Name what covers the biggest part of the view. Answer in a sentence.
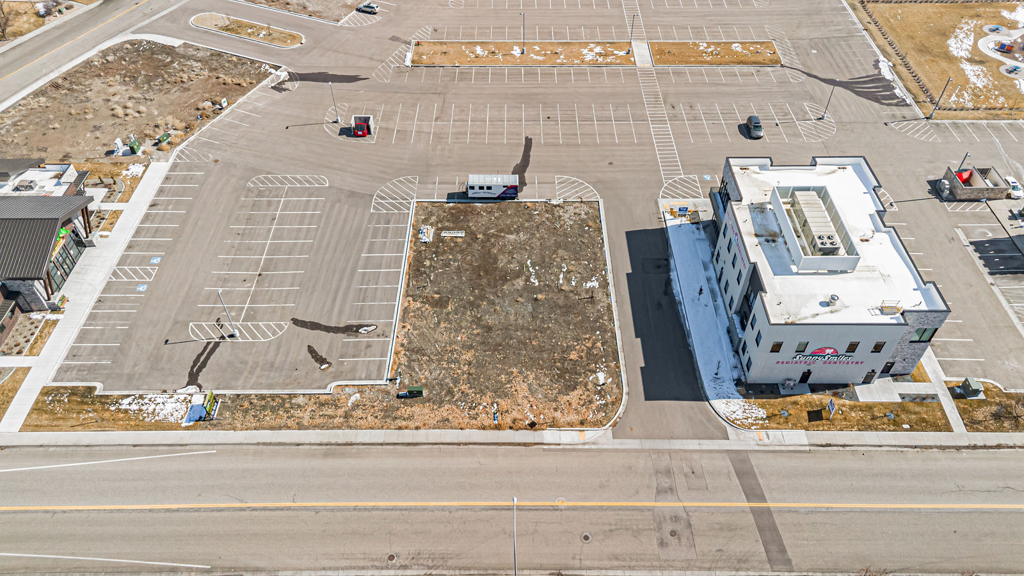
Most of the picture is covered by paved ground.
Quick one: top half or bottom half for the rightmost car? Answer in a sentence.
It is in the top half that the rightmost car appears.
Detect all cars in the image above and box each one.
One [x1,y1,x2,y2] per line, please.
[747,113,767,137]
[355,1,381,13]
[1003,173,1024,199]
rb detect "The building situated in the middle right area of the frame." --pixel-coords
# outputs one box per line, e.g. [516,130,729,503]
[704,156,950,383]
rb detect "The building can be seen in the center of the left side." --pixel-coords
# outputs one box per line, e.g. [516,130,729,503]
[0,147,101,332]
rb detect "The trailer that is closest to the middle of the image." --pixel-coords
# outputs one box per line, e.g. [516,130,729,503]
[460,170,521,199]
